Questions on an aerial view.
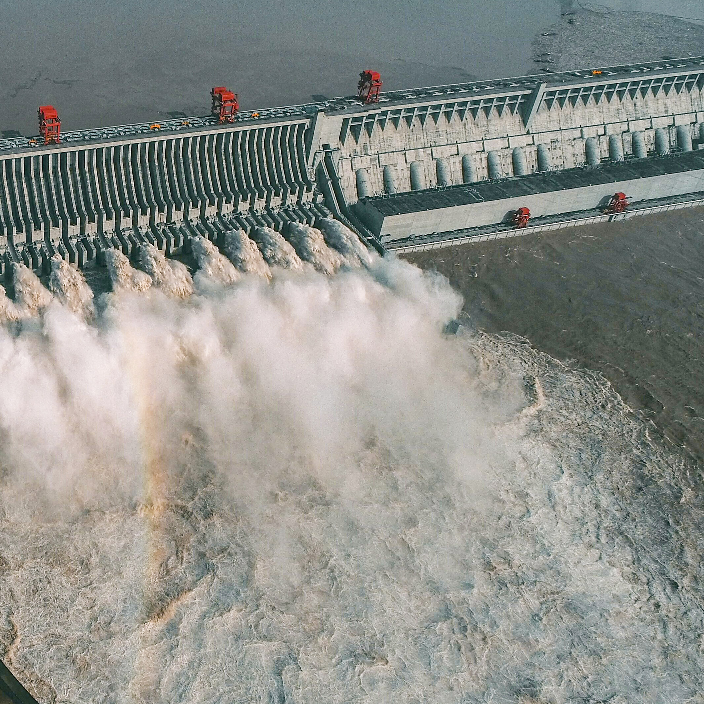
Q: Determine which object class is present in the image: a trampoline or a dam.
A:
dam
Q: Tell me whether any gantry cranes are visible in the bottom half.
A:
No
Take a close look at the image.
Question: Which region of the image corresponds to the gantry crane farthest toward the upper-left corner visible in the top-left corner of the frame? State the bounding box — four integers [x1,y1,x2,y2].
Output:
[39,103,61,143]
